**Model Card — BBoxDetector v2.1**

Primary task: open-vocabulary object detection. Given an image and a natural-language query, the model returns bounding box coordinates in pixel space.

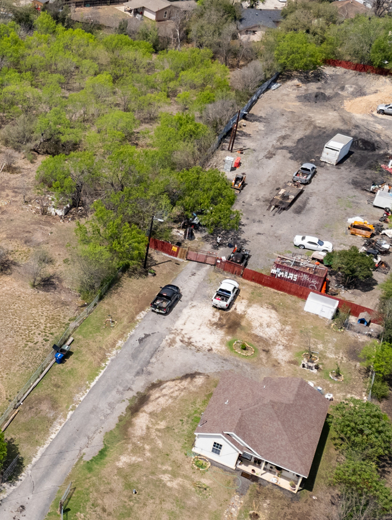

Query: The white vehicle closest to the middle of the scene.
[212,279,239,310]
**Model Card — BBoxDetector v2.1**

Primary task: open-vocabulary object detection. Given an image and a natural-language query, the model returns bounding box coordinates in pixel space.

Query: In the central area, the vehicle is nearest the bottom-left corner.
[148,283,180,315]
